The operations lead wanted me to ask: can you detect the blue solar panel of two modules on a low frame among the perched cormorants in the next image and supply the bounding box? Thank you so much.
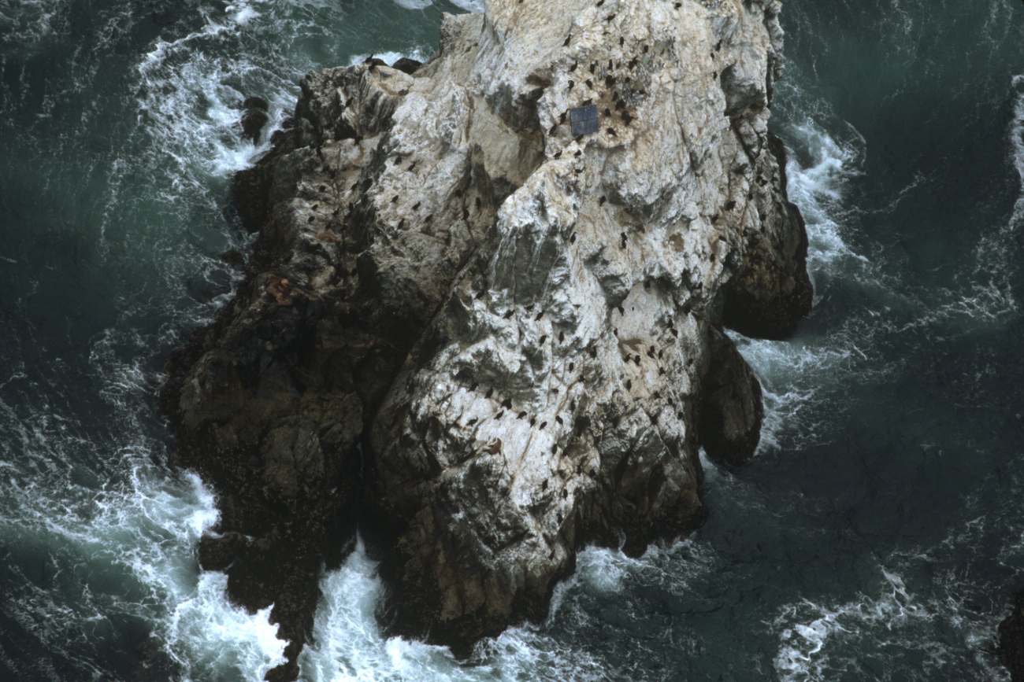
[570,103,601,142]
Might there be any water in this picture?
Yes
